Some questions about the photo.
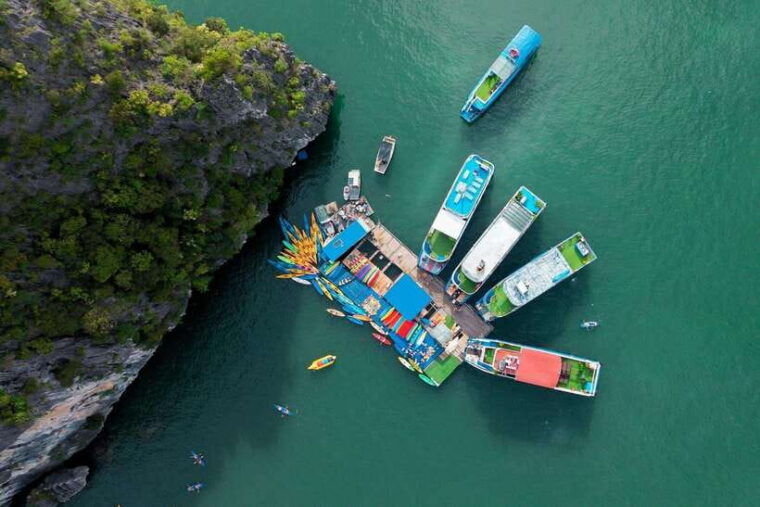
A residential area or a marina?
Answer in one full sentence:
It's a marina.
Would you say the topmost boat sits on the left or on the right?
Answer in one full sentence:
You can find the topmost boat on the right side of the picture.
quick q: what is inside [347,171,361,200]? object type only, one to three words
boat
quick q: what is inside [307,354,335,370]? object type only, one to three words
boat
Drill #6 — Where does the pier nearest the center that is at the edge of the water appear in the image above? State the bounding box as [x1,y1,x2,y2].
[367,223,421,280]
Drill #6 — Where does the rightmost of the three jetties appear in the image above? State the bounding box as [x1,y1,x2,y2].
[412,262,463,314]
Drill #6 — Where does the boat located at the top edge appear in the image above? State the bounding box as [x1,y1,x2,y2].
[462,24,540,121]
